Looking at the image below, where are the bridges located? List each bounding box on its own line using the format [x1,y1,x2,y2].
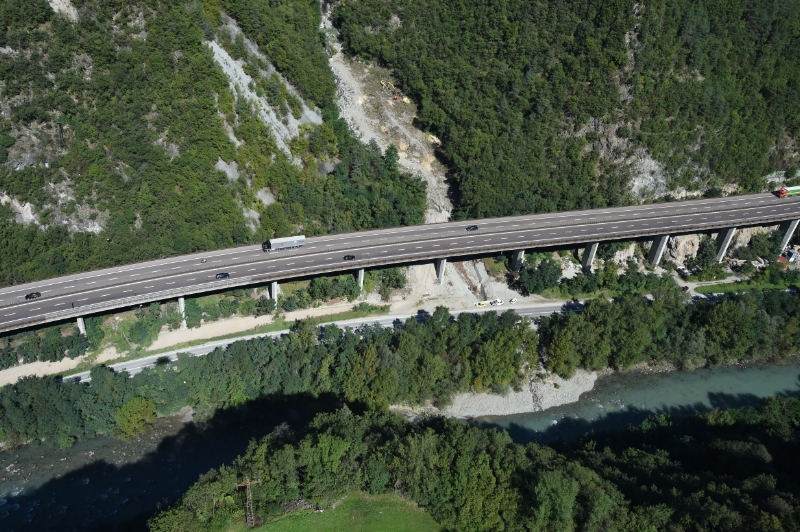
[0,188,800,341]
